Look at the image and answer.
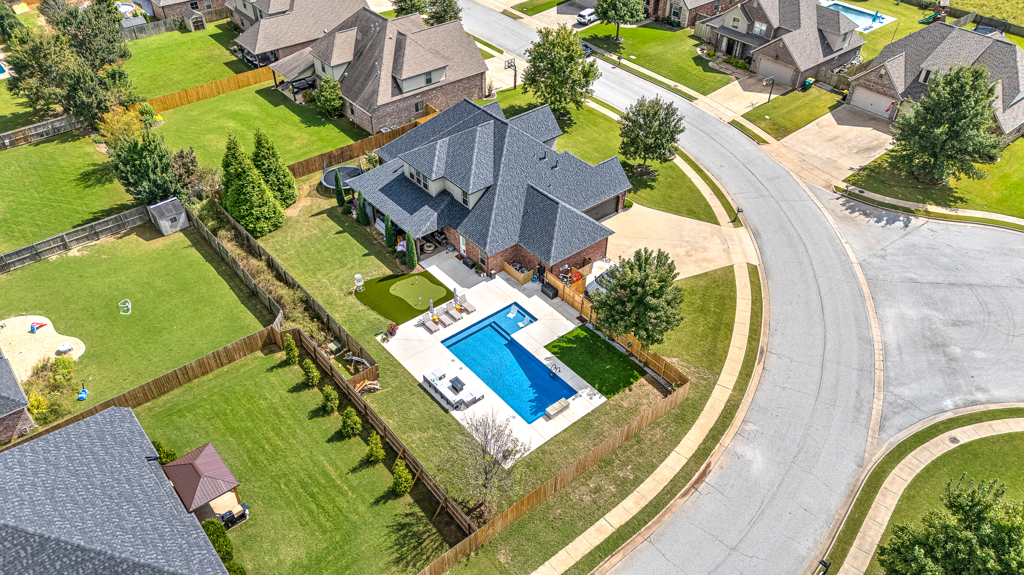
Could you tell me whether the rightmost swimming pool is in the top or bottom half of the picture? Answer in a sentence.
You can find the rightmost swimming pool in the top half.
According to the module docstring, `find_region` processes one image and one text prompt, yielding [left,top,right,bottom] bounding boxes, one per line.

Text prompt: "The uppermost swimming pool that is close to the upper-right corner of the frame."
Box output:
[827,0,885,26]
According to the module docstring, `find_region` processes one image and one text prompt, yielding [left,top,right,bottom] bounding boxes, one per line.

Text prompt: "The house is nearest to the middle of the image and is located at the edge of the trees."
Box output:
[343,98,632,280]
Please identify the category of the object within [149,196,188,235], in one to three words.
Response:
shed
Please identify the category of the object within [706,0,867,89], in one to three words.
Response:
house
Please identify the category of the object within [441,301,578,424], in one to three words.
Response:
swimming pool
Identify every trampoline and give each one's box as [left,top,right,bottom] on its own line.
[978,10,1020,37]
[312,148,356,189]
